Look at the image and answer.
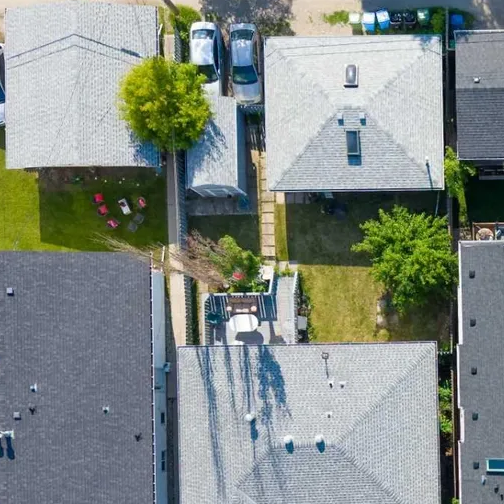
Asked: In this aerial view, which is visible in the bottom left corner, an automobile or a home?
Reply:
home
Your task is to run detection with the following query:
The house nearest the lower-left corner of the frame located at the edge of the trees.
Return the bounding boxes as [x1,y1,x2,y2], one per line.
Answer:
[0,249,175,504]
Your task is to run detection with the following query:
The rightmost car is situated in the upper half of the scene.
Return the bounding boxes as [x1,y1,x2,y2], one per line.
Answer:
[229,24,266,107]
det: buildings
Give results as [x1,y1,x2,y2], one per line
[4,1,169,170]
[263,33,446,194]
[0,249,175,504]
[178,342,441,504]
[457,239,504,504]
[454,29,504,166]
[186,95,249,193]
